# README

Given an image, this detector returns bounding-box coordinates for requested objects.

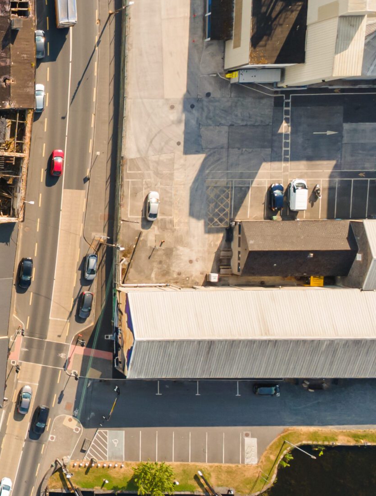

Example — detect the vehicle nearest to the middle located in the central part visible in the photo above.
[144,191,159,221]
